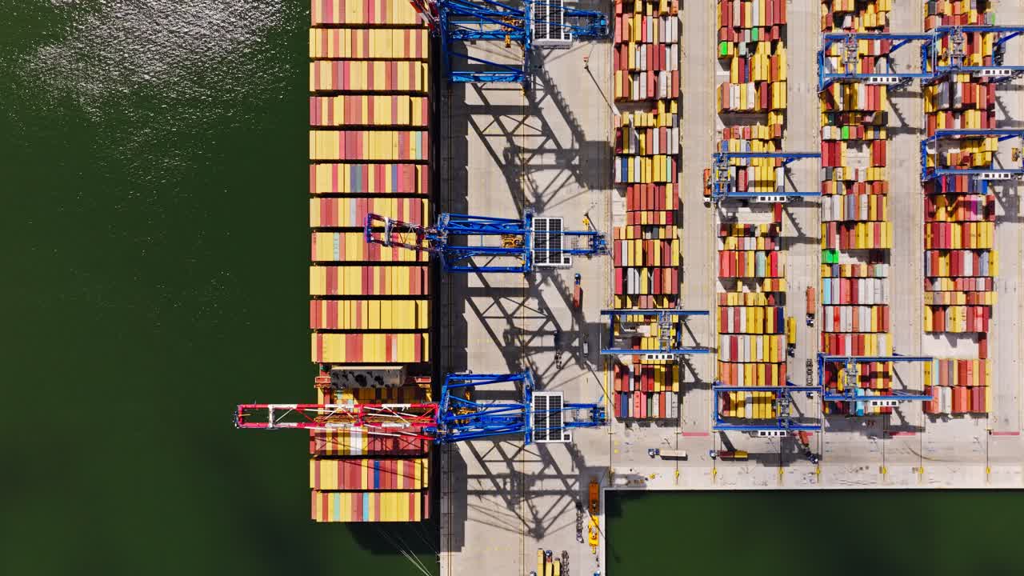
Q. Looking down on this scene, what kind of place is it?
port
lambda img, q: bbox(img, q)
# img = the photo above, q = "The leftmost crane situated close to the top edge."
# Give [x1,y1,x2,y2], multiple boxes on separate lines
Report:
[407,0,608,100]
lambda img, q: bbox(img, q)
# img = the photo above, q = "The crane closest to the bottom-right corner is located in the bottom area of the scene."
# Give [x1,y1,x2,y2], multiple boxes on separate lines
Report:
[818,348,934,409]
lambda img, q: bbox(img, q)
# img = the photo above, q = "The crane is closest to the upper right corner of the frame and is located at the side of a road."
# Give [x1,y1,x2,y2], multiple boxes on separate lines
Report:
[921,25,1024,91]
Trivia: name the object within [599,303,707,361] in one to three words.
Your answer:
container crane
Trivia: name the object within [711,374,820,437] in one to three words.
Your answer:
container crane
